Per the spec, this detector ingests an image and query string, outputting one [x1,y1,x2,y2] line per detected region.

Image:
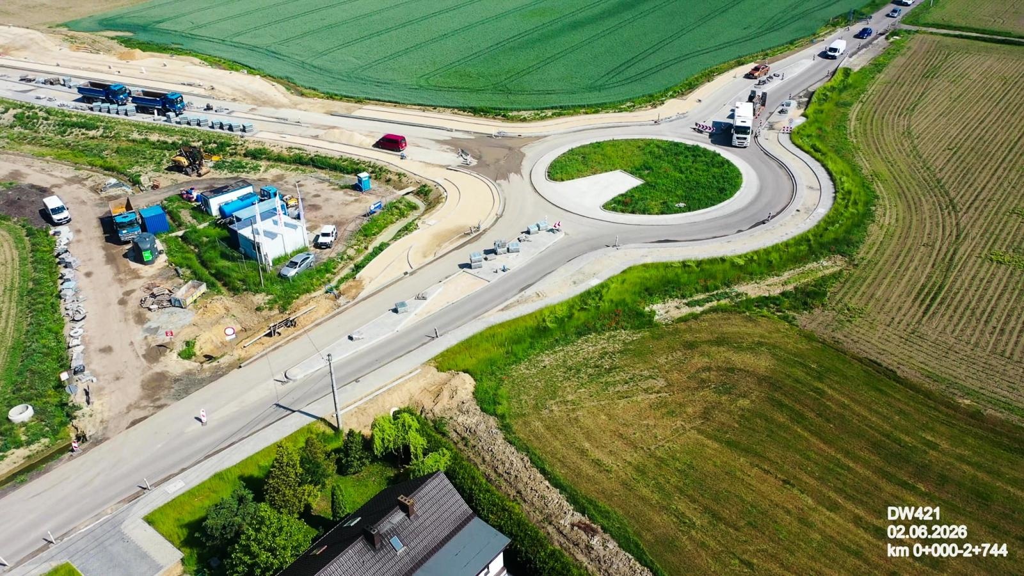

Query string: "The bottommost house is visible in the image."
[273,468,513,576]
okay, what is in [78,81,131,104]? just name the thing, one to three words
truck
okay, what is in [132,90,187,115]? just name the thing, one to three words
truck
